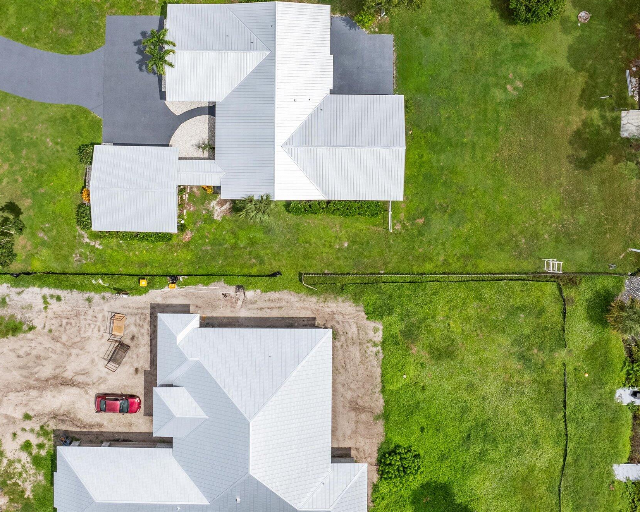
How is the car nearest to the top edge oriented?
horizontally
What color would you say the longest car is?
red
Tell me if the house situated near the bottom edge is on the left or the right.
left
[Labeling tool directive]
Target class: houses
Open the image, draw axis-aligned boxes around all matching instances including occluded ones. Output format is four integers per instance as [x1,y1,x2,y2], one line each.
[57,312,369,512]
[166,0,406,203]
